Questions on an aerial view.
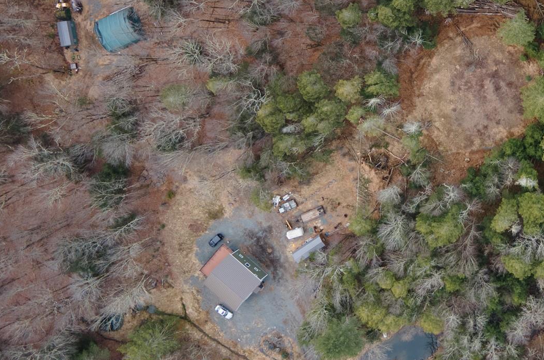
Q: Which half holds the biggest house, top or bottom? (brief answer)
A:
bottom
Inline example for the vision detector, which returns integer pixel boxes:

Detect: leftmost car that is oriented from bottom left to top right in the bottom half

[207,231,227,248]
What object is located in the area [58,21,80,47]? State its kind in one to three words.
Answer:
shed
